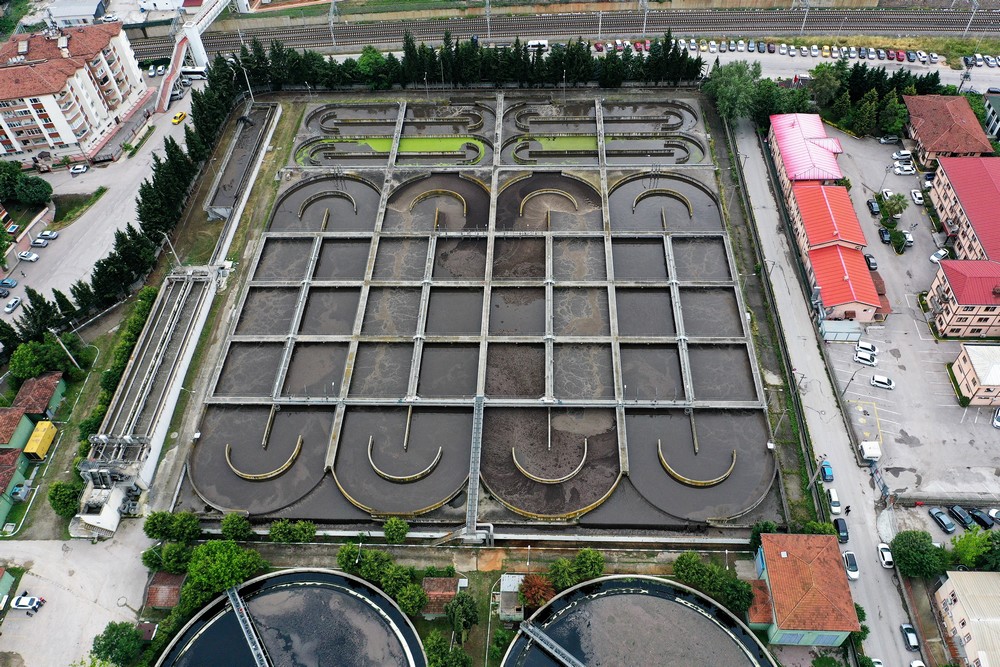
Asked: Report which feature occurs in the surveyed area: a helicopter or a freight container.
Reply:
freight container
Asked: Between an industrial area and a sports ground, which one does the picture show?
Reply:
industrial area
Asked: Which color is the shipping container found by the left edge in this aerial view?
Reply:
yellow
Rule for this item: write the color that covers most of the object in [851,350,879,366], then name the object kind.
white car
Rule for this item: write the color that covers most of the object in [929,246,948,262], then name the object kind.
white car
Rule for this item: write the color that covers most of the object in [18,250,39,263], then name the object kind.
white vehicle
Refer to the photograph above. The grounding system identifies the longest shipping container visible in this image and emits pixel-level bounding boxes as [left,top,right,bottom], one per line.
[21,420,60,462]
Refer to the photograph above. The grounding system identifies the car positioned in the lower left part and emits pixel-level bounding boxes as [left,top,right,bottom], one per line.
[8,594,42,611]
